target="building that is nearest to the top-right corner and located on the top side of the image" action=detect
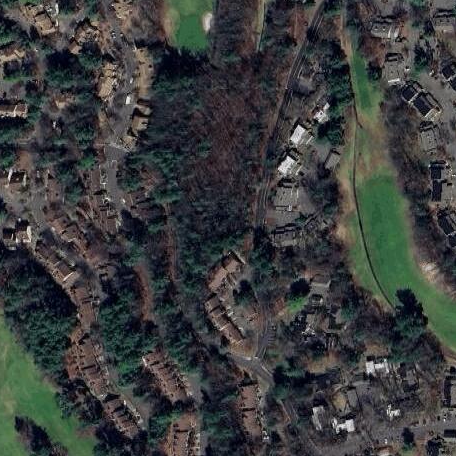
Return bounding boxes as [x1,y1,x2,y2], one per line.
[435,15,456,34]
